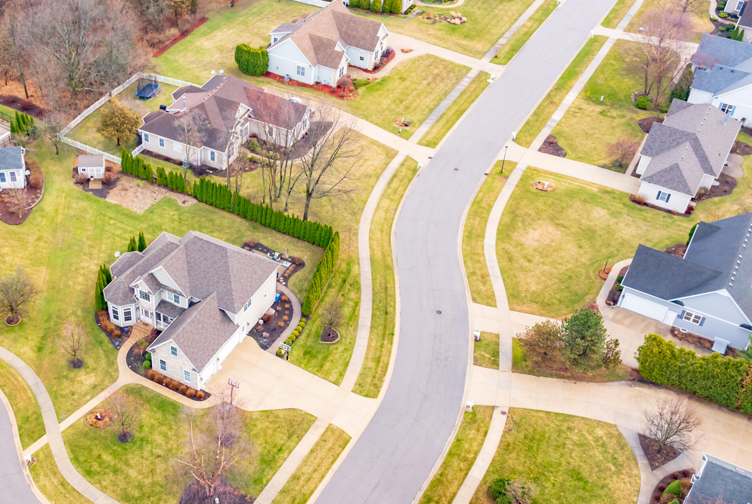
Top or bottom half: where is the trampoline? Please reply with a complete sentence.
The trampoline sits in the top half of the picture.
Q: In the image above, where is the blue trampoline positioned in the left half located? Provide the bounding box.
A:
[134,81,161,101]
